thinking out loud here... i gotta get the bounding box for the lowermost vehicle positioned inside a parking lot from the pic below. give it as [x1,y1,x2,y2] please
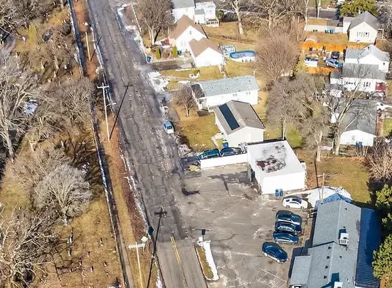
[260,244,290,262]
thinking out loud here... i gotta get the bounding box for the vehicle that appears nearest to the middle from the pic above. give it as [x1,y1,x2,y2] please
[198,149,221,161]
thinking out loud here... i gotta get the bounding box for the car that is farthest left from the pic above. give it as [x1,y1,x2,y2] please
[163,119,175,133]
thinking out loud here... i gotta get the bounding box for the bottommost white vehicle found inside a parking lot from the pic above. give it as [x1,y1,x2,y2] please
[282,197,309,209]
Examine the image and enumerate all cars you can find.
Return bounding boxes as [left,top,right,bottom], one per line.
[260,244,290,262]
[219,148,243,158]
[274,219,302,235]
[331,50,340,61]
[274,209,302,225]
[271,231,300,245]
[163,119,175,133]
[323,59,342,69]
[282,197,309,209]
[198,149,221,161]
[372,99,392,111]
[366,90,388,100]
